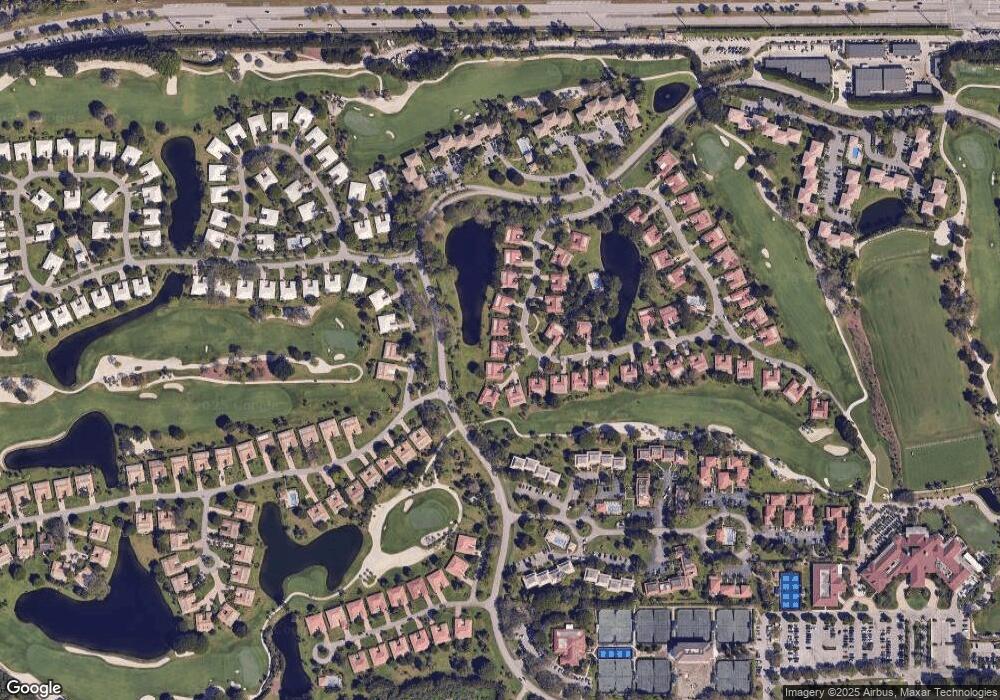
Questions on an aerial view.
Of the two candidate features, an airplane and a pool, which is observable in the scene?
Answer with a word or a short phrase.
pool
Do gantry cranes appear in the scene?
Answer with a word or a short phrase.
No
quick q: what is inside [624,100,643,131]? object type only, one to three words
building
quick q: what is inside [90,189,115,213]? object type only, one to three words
house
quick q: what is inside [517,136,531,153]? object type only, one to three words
swimming pool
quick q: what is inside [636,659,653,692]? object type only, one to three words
tennis court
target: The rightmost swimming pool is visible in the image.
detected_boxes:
[850,145,865,165]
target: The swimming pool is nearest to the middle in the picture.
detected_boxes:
[587,270,604,289]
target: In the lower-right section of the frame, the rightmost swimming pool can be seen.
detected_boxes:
[725,526,737,546]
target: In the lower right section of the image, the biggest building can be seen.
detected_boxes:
[860,526,977,596]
